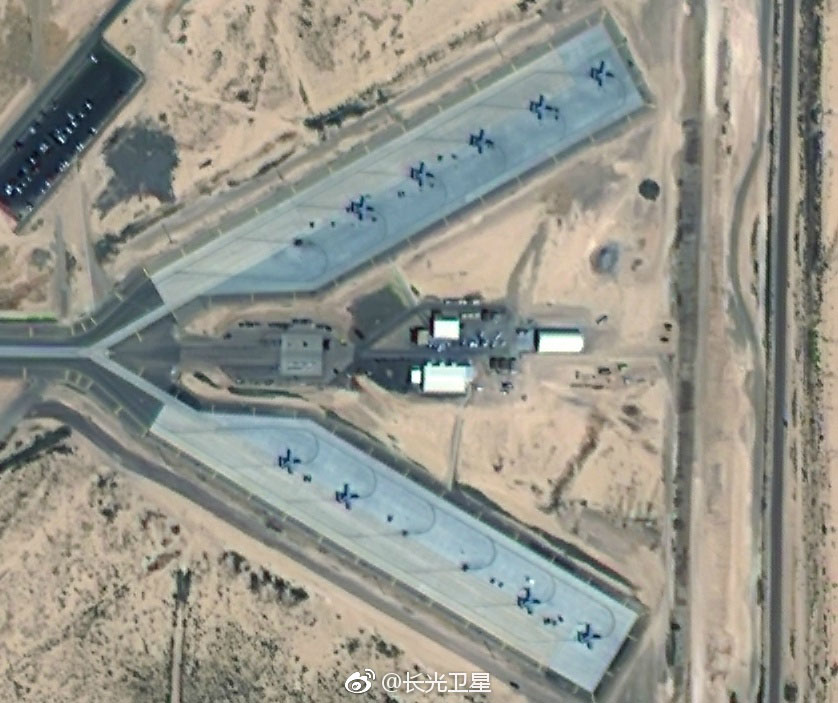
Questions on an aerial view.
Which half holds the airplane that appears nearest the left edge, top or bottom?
bottom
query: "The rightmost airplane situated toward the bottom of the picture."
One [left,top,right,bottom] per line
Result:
[578,624,601,649]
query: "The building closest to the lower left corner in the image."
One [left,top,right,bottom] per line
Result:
[282,333,322,376]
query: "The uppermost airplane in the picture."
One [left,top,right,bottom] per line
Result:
[591,61,615,86]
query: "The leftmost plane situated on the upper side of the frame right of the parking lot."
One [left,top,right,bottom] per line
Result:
[349,196,374,220]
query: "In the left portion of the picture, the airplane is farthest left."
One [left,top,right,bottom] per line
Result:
[278,449,302,474]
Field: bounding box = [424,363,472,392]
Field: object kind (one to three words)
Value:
hangar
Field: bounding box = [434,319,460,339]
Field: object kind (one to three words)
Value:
hangar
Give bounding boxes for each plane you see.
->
[336,484,359,509]
[470,128,493,154]
[518,589,541,615]
[591,61,615,86]
[278,449,302,474]
[410,161,434,187]
[349,196,374,220]
[529,94,552,119]
[578,624,601,649]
